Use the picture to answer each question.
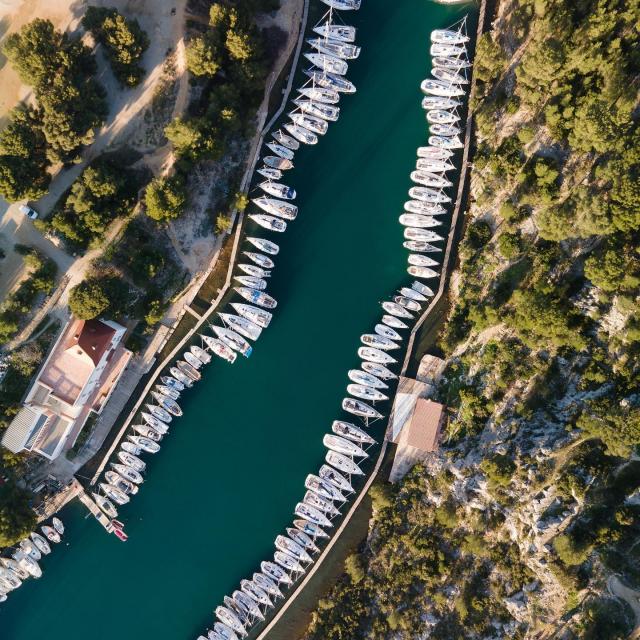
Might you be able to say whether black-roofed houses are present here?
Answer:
No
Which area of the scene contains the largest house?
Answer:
left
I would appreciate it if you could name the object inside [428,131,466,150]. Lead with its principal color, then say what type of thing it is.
white boat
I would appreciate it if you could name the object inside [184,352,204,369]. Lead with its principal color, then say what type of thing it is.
white boat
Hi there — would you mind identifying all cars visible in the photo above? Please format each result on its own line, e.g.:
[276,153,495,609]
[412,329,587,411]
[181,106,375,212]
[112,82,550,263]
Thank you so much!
[21,205,38,218]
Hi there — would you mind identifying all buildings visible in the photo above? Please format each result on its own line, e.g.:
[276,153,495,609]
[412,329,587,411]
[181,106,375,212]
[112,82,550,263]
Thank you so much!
[407,398,444,451]
[1,312,134,458]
